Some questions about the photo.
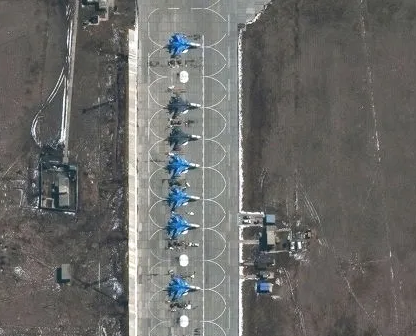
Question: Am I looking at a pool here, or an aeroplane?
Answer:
aeroplane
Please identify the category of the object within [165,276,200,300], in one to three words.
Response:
airplane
